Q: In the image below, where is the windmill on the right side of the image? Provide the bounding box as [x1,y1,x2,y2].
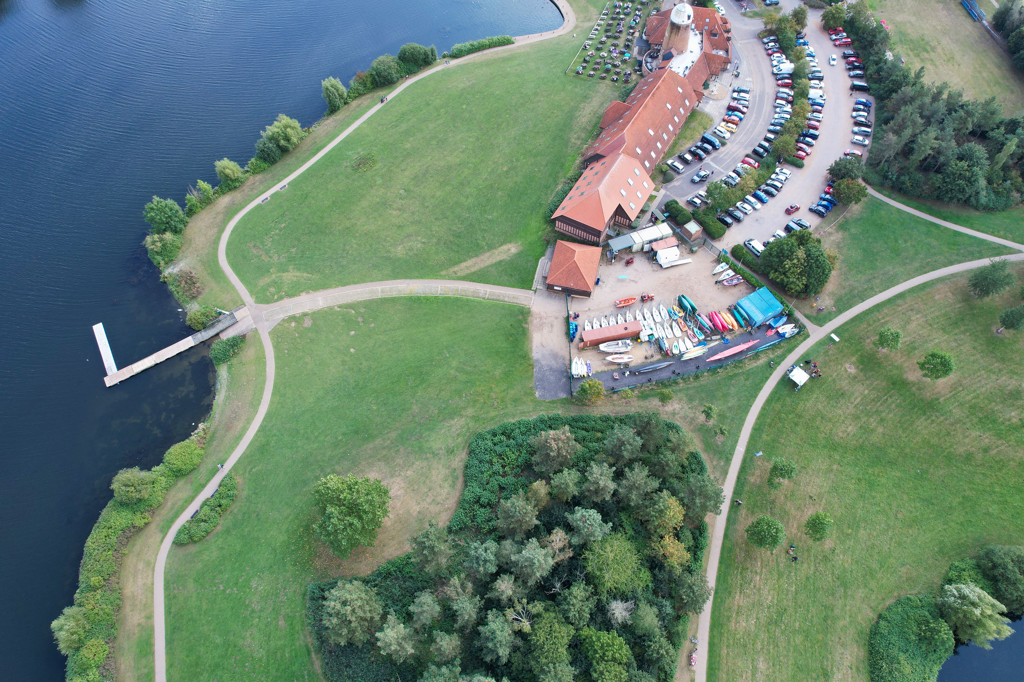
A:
[658,0,694,65]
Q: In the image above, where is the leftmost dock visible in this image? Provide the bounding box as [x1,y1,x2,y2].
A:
[93,323,118,375]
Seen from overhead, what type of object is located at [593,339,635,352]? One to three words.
boat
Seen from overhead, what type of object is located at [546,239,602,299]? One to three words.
building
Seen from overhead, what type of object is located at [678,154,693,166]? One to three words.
vehicle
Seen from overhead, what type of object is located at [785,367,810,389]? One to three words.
gazebo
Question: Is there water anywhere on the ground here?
Yes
